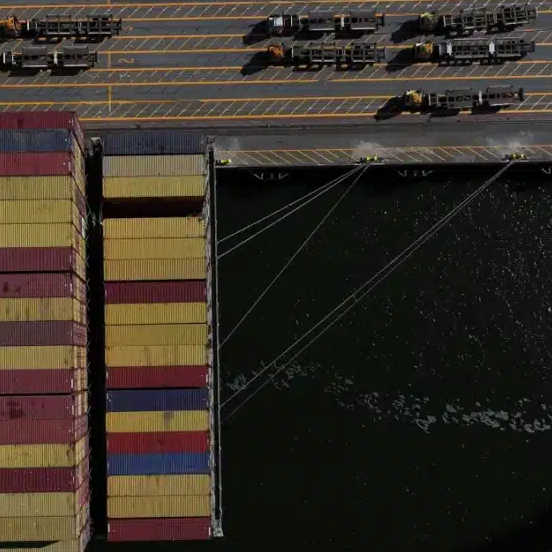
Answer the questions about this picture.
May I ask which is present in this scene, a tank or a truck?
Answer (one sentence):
Of the two, only a truck appears.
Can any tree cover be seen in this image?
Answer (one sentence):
No, the scene doesn't show any tree cover.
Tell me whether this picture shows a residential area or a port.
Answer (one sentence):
This looks like a port.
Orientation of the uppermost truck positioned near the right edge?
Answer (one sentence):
In this picture, the uppermost truck positioned near the right edge is oriented from side to side.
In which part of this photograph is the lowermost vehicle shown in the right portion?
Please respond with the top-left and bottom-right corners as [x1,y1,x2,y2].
[399,83,522,111]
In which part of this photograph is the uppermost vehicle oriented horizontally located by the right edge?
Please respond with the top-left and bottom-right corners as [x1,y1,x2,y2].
[416,1,536,33]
